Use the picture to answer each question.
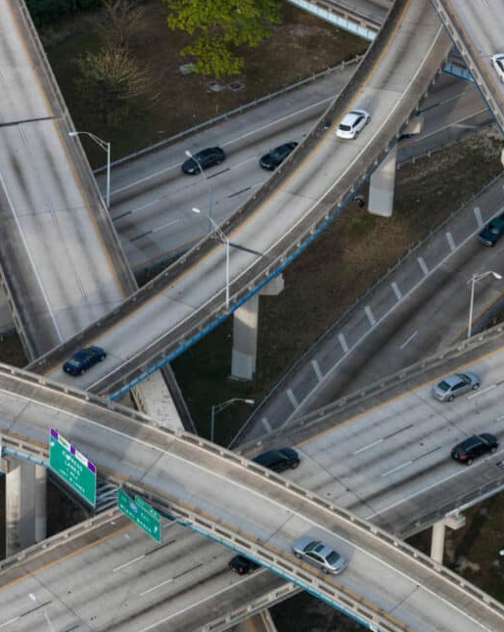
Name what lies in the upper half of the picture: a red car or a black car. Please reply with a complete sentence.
What appears in the upper half of the picture is a black car.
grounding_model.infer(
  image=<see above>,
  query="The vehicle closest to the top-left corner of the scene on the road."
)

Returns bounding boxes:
[183,145,225,172]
